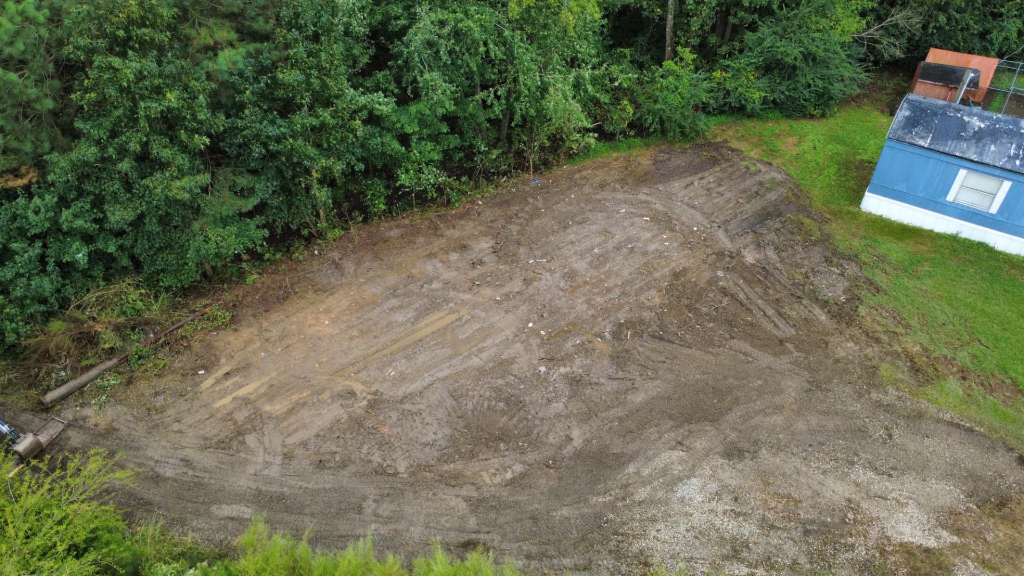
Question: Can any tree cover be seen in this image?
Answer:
Yes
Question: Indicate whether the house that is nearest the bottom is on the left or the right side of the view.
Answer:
right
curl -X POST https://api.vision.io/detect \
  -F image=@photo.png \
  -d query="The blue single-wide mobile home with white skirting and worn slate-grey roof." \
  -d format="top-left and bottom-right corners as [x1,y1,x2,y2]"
[858,93,1024,258]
